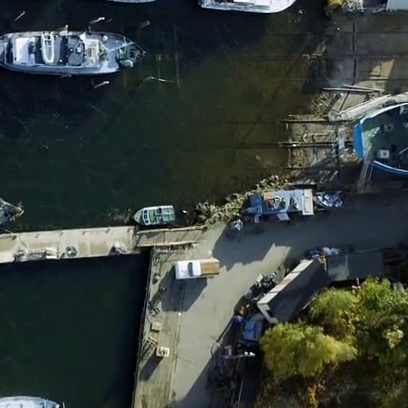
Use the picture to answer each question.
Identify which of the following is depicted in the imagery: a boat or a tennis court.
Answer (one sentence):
There is a boat in the scene.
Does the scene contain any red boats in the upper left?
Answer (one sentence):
No, there's no red boat to be seen in the upper left.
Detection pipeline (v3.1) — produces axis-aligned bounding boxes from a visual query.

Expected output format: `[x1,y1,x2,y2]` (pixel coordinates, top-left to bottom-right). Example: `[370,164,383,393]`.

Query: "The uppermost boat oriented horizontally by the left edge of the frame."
[0,30,145,76]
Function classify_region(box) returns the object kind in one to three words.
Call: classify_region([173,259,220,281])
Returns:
truck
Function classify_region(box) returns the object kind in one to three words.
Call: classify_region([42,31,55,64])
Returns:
boat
